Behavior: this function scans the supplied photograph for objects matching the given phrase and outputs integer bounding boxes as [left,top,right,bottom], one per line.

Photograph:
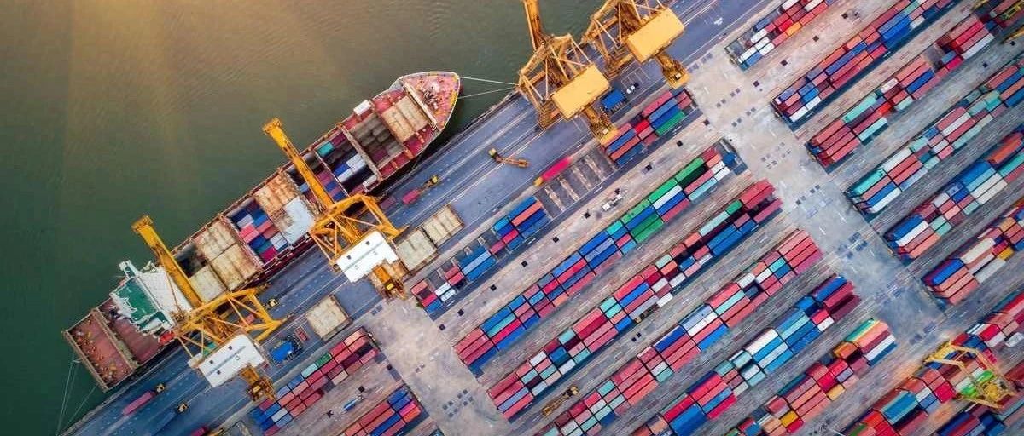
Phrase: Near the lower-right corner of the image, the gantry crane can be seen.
[918,334,1022,420]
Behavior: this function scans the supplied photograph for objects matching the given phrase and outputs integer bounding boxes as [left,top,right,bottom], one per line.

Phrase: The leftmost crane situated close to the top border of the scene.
[508,0,620,150]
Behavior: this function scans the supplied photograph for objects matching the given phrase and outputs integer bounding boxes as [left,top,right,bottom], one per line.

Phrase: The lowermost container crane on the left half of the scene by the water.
[127,211,304,403]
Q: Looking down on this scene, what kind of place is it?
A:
port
